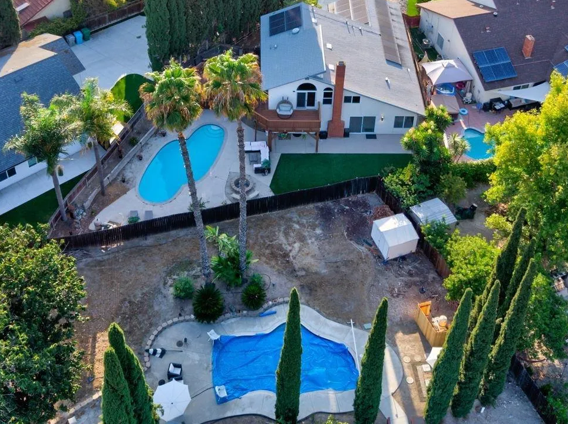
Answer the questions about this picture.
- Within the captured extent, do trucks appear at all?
No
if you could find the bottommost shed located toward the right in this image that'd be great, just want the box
[374,225,418,273]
